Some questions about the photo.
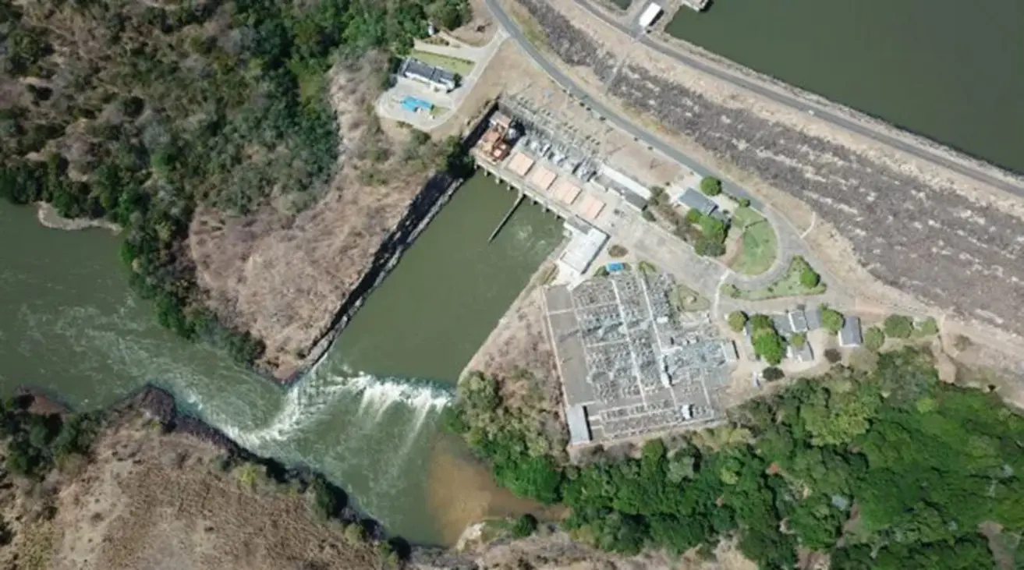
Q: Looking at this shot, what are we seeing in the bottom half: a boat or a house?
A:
house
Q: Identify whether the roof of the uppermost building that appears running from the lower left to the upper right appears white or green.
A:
white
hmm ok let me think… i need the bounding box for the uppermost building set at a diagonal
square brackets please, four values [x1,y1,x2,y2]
[636,1,662,31]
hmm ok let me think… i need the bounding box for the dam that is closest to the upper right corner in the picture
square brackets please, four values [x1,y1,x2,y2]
[524,0,1024,338]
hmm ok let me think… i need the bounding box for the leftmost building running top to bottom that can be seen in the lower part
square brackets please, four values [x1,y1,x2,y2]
[567,405,590,445]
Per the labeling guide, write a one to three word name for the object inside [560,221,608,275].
building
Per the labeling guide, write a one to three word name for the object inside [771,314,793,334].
house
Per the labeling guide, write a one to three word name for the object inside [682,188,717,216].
house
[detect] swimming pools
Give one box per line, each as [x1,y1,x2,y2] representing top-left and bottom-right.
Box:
[400,96,436,113]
